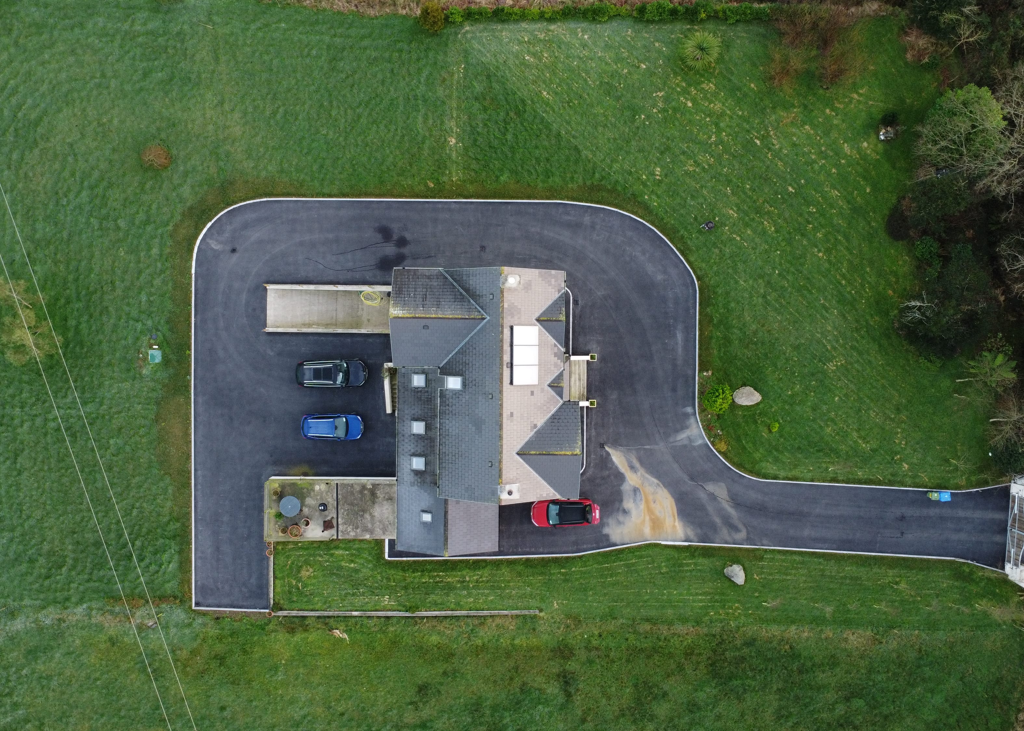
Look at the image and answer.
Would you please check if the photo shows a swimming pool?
No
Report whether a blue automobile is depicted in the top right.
No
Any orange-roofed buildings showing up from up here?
No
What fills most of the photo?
grass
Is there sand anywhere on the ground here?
No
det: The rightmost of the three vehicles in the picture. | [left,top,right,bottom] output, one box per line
[531,499,601,533]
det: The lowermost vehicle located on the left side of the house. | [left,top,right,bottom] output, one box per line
[299,411,363,444]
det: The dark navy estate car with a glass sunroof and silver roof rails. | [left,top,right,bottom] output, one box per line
[295,356,367,390]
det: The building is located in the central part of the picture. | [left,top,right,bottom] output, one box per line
[388,266,583,558]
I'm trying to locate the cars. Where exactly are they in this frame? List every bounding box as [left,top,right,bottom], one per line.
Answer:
[531,499,601,533]
[299,411,363,444]
[295,356,367,390]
